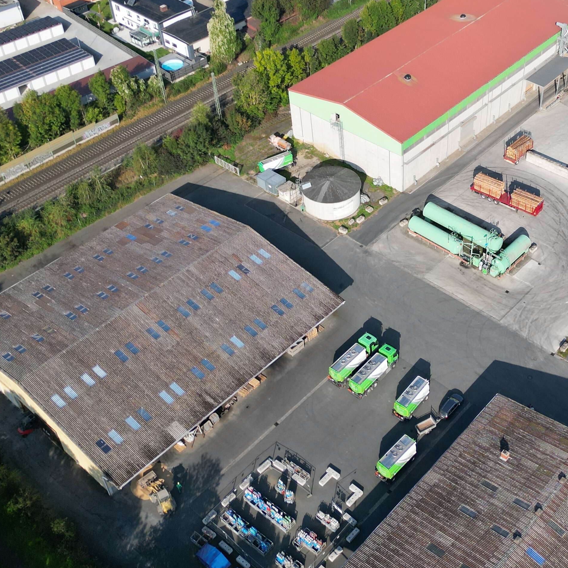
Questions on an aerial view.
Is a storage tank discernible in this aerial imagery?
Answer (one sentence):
Yes, you can see a storage tank in this photo.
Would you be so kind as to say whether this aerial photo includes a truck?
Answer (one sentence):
Yes, the picture does show a truck.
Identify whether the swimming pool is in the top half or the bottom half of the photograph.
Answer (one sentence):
The swimming pool sits in the top half of the picture.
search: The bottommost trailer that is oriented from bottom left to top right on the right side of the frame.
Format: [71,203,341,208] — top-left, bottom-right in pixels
[374,432,417,484]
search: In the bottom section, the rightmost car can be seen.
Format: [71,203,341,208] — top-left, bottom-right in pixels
[437,393,466,422]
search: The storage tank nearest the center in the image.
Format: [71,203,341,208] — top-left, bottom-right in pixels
[299,174,355,225]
